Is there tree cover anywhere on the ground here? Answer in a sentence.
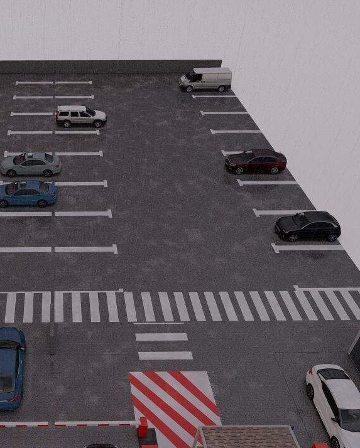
No, tree cover can't be seen anywhere here.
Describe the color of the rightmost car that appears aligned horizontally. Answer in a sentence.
The rightmost car that appears aligned horizontally looks black in the image.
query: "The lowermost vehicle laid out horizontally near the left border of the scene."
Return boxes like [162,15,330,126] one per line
[0,180,58,207]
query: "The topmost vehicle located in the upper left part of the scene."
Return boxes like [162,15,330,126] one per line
[58,105,109,127]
